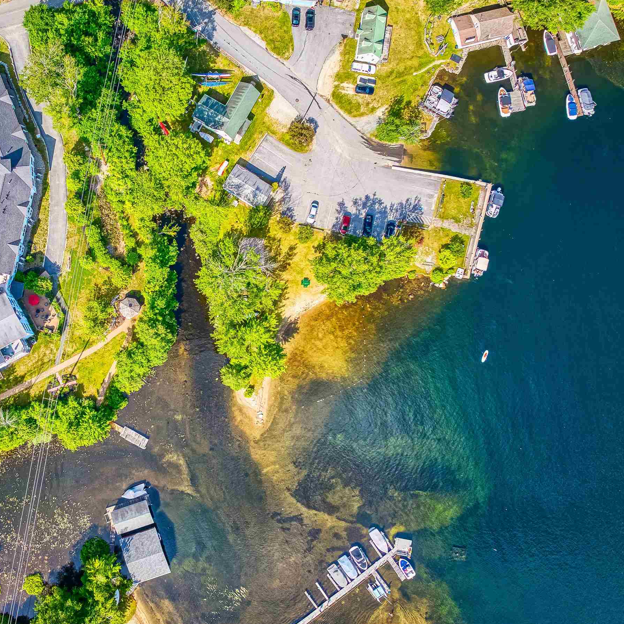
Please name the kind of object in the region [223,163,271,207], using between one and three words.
shed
